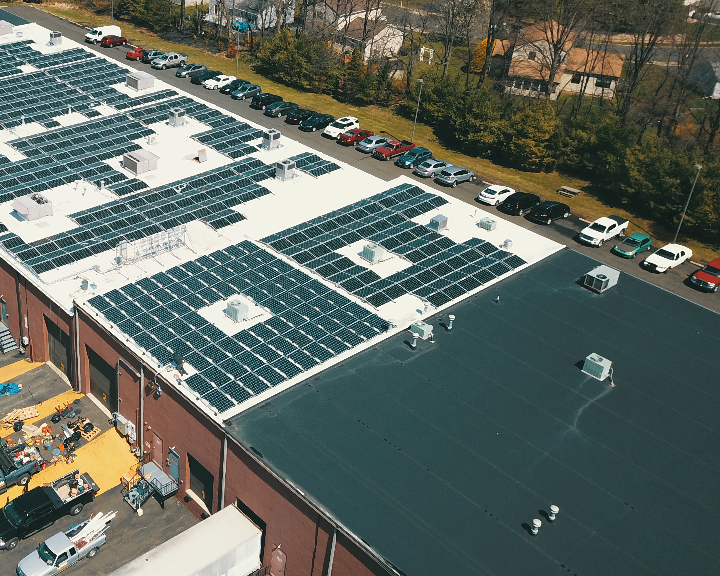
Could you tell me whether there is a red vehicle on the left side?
Yes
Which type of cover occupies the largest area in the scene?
buildings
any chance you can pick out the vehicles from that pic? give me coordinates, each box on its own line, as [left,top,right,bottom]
[96,30,132,47]
[126,42,155,58]
[642,240,691,273]
[284,104,319,123]
[528,196,573,224]
[263,96,303,116]
[150,48,192,70]
[317,111,359,137]
[355,132,389,152]
[370,135,416,160]
[171,60,208,77]
[609,224,656,258]
[0,470,100,550]
[199,71,236,88]
[687,251,720,293]
[139,46,167,63]
[435,160,480,187]
[503,187,545,213]
[299,109,338,131]
[393,142,434,168]
[9,518,108,576]
[337,124,378,145]
[576,208,633,247]
[224,80,263,100]
[413,153,453,177]
[477,179,522,204]
[185,65,223,82]
[247,86,286,109]
[0,441,47,490]
[84,19,124,41]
